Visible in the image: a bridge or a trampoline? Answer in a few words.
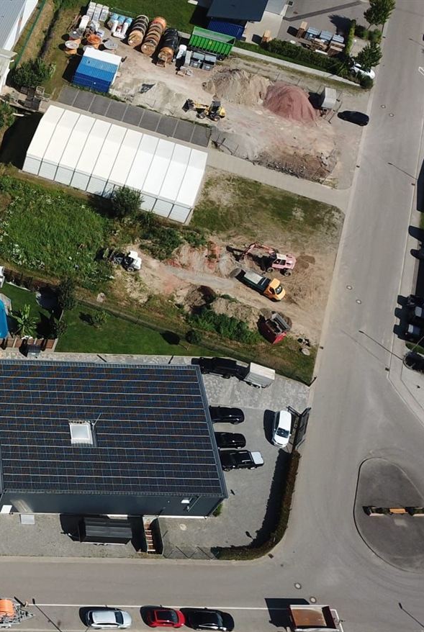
trampoline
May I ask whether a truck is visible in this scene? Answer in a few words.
Yes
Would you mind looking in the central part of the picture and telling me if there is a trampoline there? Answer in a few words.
No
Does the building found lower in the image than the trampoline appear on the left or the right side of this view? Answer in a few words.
left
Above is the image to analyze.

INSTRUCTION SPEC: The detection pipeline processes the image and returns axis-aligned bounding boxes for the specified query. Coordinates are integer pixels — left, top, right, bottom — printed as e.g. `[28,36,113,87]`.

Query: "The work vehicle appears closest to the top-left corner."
[186,98,223,120]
